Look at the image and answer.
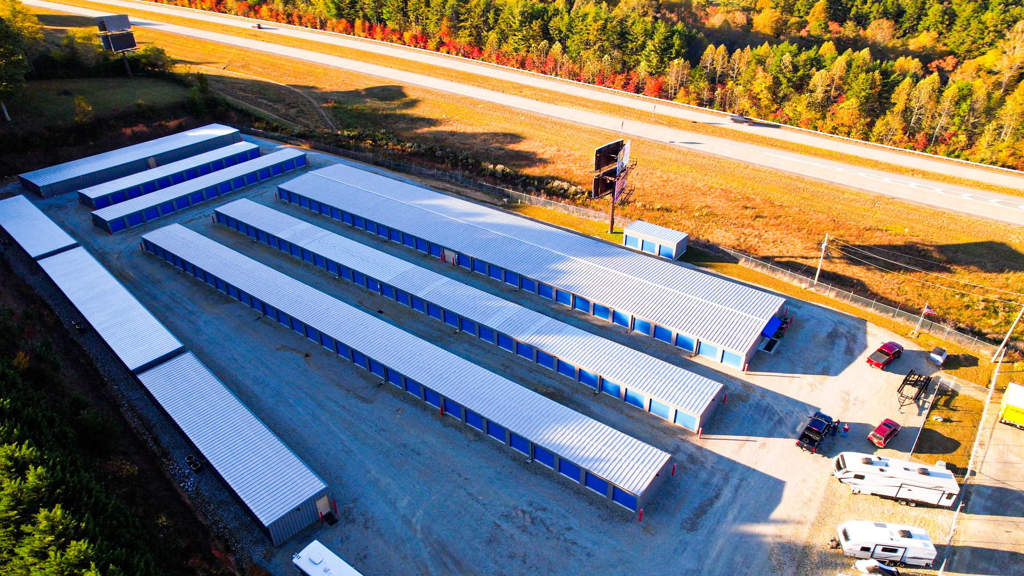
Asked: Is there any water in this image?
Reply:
No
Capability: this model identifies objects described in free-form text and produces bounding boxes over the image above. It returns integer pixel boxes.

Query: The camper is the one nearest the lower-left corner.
[292,539,358,576]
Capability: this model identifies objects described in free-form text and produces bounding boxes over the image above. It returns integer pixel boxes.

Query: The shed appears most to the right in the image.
[924,345,948,366]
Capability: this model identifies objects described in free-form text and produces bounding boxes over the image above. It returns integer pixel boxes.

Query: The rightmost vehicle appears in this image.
[996,383,1024,430]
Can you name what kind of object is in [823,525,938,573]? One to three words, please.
vehicle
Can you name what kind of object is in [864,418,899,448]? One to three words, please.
car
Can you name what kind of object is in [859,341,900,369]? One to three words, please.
truck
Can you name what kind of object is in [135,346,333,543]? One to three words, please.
building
